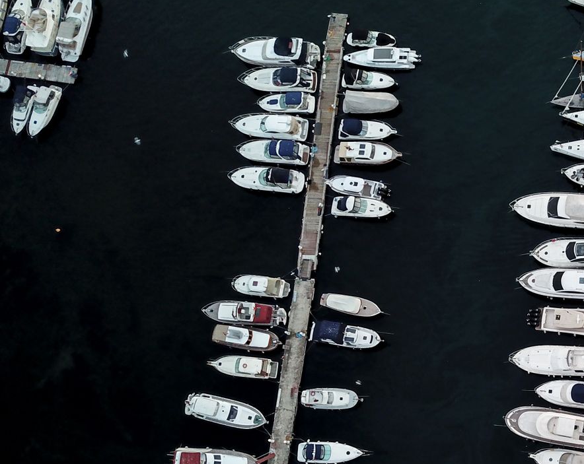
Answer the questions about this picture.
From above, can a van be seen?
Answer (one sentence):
No, no van is visible in the scene.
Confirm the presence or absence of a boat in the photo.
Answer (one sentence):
Yes, I can see a boat in this picture.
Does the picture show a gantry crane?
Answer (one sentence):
No, the frame has no gantry crane in it.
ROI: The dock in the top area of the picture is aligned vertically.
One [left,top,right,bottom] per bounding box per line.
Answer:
[297,14,351,282]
